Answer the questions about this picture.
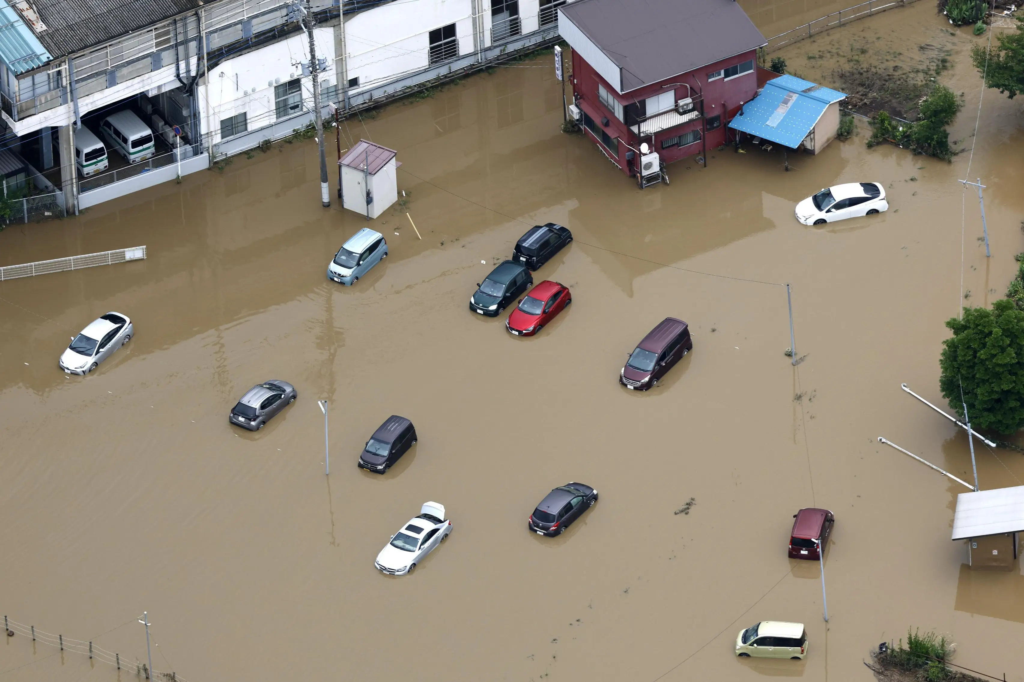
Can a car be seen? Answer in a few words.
Yes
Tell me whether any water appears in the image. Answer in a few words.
Yes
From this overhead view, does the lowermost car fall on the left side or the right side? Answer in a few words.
right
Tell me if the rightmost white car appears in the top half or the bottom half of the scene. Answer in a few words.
top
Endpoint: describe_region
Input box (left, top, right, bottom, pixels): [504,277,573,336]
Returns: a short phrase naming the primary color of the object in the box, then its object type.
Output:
red car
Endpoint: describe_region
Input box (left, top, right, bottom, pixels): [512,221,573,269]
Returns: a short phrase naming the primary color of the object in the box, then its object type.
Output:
black car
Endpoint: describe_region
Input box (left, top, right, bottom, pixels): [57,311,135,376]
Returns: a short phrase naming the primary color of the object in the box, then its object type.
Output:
white car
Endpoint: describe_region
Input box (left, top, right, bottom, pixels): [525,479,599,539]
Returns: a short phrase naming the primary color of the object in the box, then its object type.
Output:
gray car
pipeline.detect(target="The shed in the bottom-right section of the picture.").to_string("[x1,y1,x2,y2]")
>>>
[951,482,1024,573]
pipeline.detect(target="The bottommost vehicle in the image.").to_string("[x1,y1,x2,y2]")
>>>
[732,623,808,661]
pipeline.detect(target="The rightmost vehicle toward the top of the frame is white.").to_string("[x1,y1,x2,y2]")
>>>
[793,181,889,225]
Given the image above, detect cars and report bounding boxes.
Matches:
[789,510,831,562]
[372,498,456,576]
[525,479,599,539]
[793,181,889,225]
[619,315,695,391]
[504,277,573,336]
[326,227,387,286]
[57,311,135,376]
[732,623,808,661]
[512,221,573,269]
[469,259,533,317]
[357,413,418,474]
[227,376,298,432]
